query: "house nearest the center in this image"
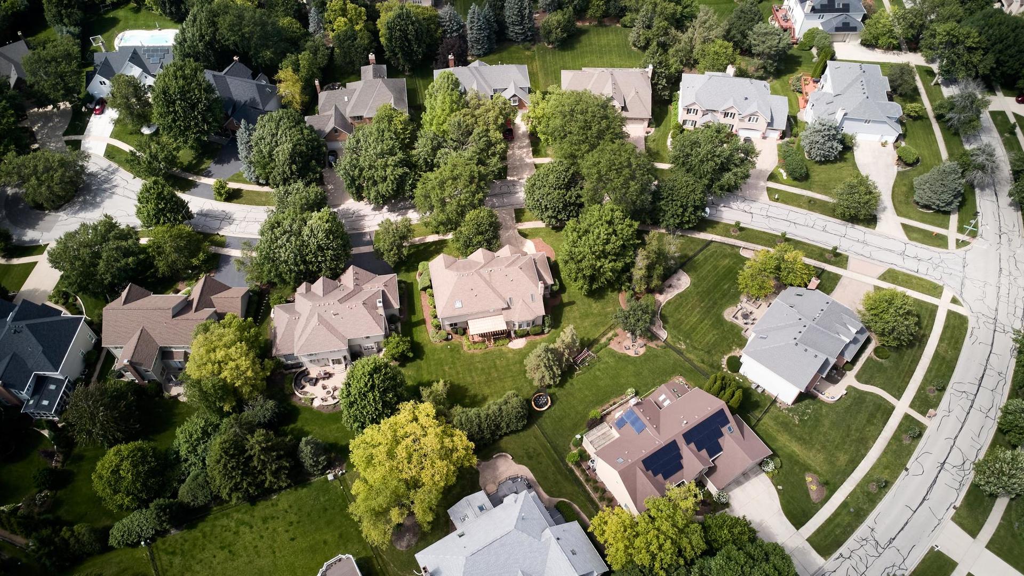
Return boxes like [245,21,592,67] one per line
[428,240,556,333]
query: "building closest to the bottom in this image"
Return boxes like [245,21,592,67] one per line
[415,488,615,576]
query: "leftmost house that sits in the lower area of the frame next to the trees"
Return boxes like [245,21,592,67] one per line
[0,293,96,423]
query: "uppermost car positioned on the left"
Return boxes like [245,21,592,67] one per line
[86,98,106,114]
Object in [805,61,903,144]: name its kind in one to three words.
house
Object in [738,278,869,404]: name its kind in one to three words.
house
